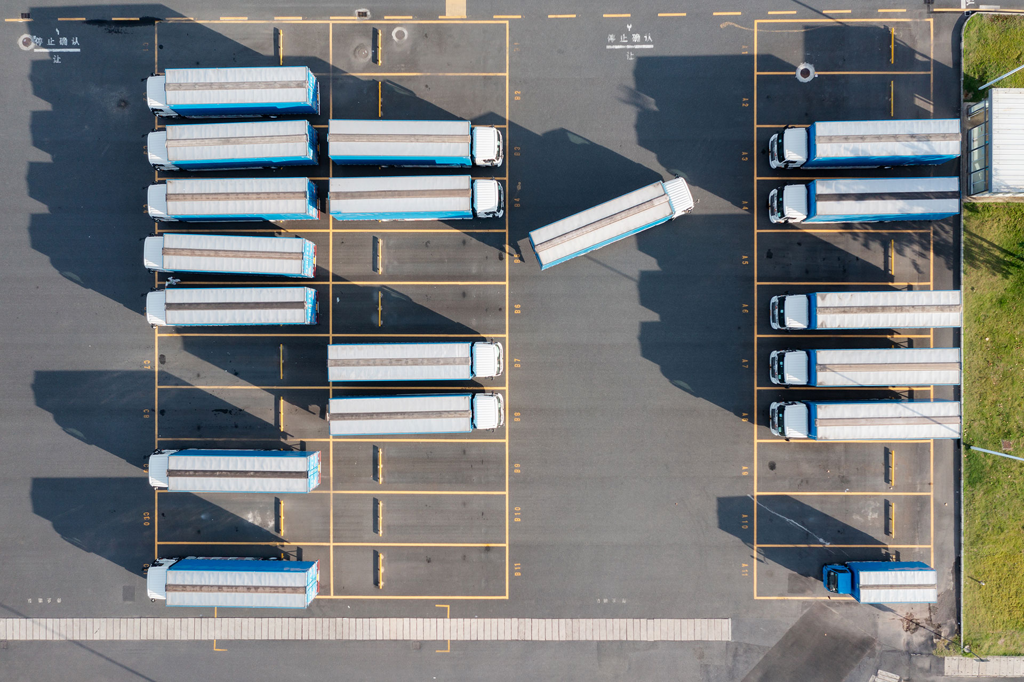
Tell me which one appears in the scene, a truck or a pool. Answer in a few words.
truck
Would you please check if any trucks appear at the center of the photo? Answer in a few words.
Yes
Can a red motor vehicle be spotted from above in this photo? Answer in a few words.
No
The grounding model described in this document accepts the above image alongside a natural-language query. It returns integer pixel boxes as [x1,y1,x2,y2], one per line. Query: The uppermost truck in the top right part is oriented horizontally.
[768,118,961,168]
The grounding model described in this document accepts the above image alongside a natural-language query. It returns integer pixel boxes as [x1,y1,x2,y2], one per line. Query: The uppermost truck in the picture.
[140,66,321,119]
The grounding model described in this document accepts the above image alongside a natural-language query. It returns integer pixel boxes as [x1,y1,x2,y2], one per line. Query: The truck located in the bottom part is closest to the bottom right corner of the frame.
[822,561,937,603]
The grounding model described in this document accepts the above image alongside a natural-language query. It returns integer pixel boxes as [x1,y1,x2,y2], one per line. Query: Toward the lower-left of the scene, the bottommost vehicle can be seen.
[141,557,320,608]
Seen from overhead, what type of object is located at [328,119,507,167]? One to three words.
truck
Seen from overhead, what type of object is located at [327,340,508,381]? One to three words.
truck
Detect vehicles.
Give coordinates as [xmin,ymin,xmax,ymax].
[141,557,320,608]
[328,119,507,167]
[140,66,321,119]
[328,175,508,221]
[768,398,961,440]
[140,286,320,328]
[822,561,937,603]
[768,346,961,388]
[141,177,321,224]
[138,232,317,278]
[768,177,960,223]
[768,118,961,168]
[768,290,961,333]
[526,172,702,270]
[142,448,322,493]
[327,340,508,381]
[329,390,509,435]
[141,120,321,172]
